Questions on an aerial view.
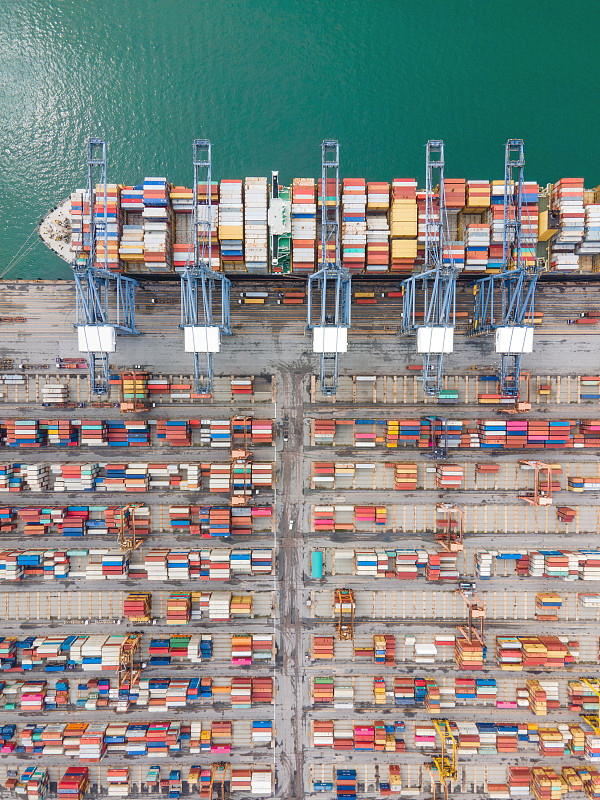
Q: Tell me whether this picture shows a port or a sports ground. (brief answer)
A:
port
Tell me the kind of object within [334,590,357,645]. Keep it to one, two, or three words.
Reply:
container crane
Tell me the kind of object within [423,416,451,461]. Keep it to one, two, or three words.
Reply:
container crane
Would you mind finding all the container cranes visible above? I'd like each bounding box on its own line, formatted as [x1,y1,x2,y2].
[435,503,466,554]
[179,138,239,393]
[580,676,600,735]
[454,590,486,644]
[120,503,147,552]
[430,720,459,784]
[118,633,146,690]
[120,371,150,415]
[517,460,553,508]
[229,416,253,461]
[229,460,254,507]
[208,762,231,800]
[394,138,456,393]
[498,371,534,415]
[302,139,352,393]
[334,590,357,645]
[423,416,451,461]
[462,138,541,393]
[72,138,148,393]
